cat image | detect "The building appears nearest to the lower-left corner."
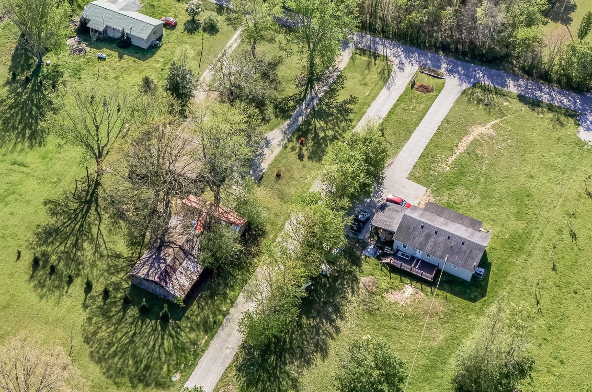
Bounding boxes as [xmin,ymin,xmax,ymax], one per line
[128,217,226,309]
